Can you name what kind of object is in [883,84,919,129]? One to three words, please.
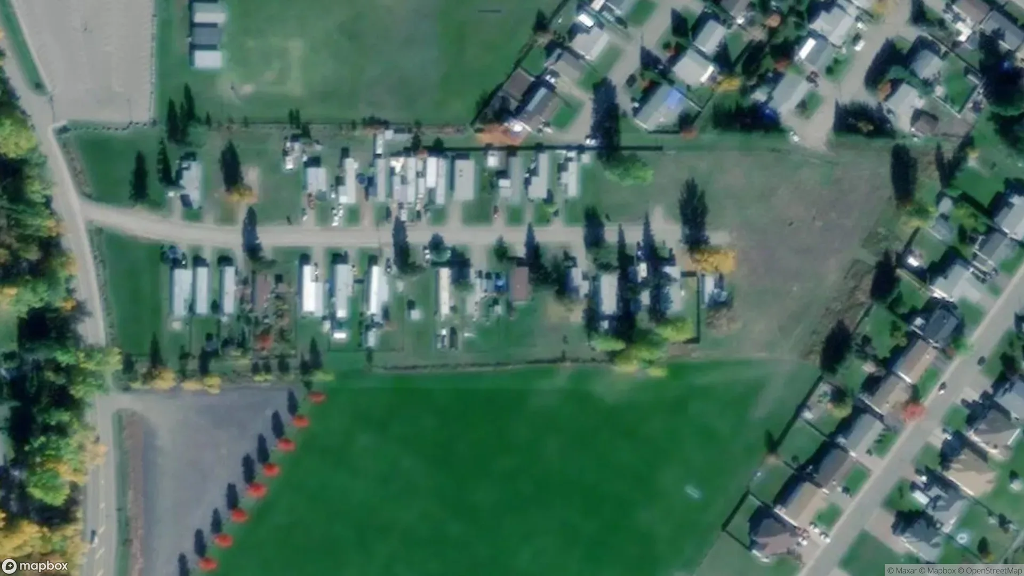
house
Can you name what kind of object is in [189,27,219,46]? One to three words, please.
building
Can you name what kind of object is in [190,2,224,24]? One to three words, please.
building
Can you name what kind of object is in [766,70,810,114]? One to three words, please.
house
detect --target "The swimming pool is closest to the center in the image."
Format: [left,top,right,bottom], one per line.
[430,244,450,263]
